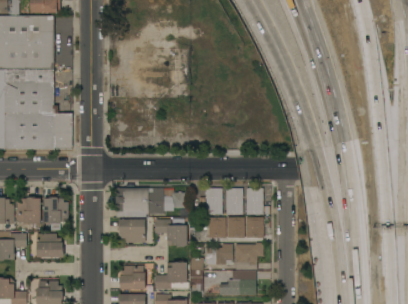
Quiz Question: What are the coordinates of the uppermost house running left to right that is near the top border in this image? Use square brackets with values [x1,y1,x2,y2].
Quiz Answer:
[30,0,58,14]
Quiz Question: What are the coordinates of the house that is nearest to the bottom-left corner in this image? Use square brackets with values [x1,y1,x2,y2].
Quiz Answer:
[0,278,28,304]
